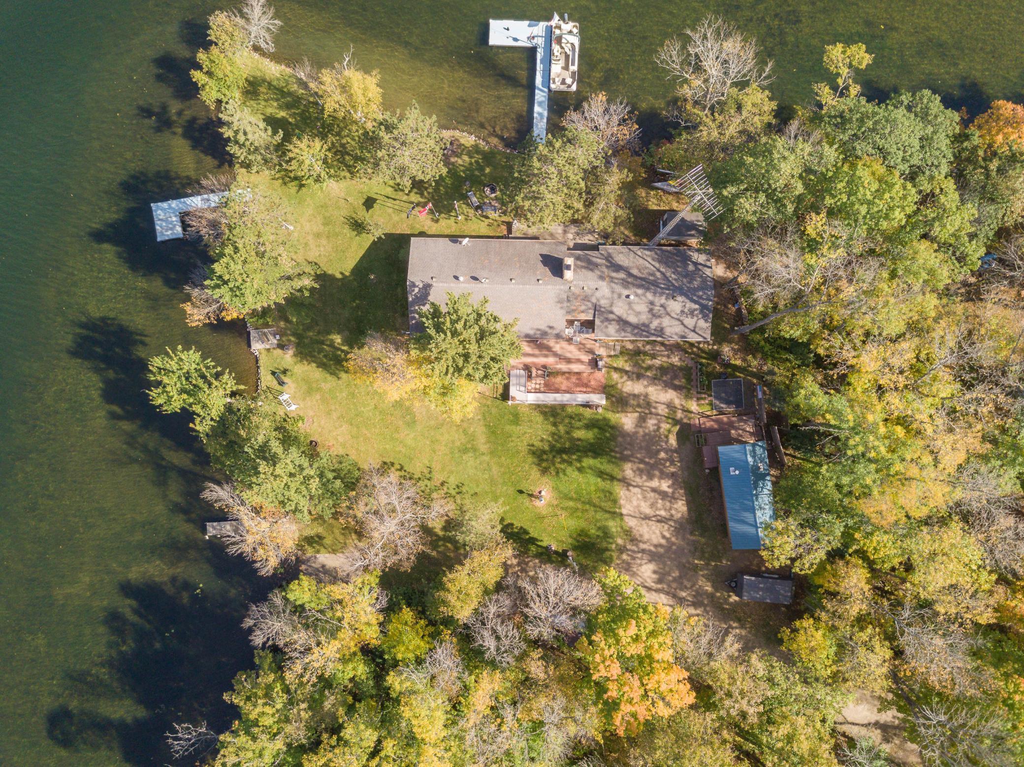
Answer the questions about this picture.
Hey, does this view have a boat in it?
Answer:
Yes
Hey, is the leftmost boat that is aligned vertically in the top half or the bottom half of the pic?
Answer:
top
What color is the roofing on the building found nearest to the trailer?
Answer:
blue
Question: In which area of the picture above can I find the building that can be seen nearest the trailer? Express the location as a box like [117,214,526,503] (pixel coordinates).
[716,440,780,550]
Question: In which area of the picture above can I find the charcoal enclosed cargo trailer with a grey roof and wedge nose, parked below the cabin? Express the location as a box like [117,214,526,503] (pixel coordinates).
[725,571,795,606]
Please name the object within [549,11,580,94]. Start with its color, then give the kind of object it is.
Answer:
white boat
